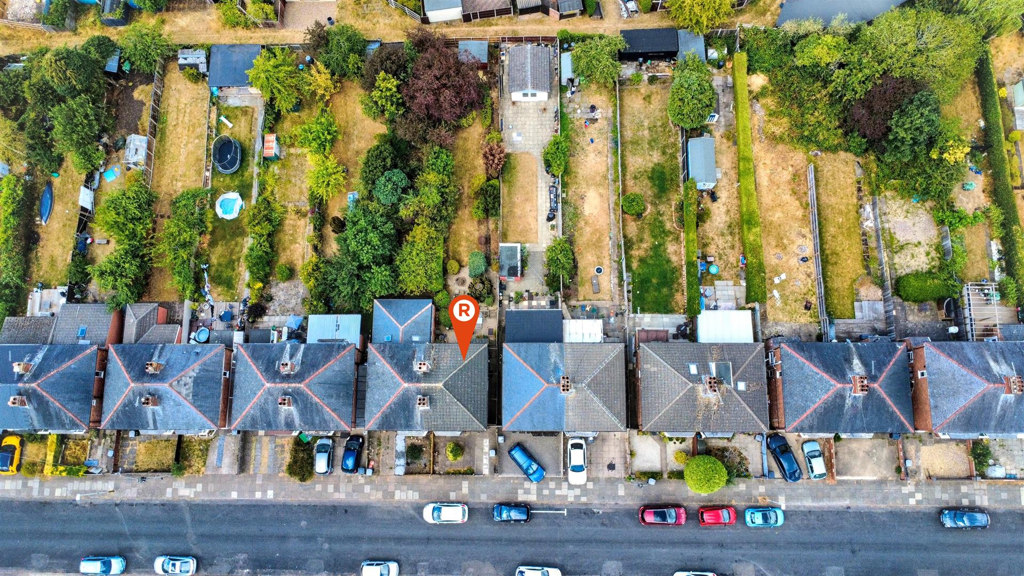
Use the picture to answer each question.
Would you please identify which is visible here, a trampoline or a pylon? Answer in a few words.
trampoline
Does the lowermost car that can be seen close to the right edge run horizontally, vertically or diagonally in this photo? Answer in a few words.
horizontally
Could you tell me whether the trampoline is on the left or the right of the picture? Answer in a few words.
left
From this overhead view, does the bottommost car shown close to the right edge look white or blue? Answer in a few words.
blue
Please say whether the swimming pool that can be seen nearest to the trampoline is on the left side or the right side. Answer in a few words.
left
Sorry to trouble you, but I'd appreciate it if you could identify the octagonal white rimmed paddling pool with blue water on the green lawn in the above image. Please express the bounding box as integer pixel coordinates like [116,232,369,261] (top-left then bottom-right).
[215,191,245,219]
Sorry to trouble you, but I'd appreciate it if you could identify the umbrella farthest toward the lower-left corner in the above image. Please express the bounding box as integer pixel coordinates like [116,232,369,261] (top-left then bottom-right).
[285,313,304,332]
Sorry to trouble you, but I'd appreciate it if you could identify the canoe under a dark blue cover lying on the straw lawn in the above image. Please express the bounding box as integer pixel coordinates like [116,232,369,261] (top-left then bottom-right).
[38,181,55,226]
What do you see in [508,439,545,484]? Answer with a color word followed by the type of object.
blue car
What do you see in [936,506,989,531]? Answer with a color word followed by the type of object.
blue car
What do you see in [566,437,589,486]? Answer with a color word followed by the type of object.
white car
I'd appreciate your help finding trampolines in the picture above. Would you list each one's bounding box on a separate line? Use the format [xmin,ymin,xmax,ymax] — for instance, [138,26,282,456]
[207,129,241,174]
